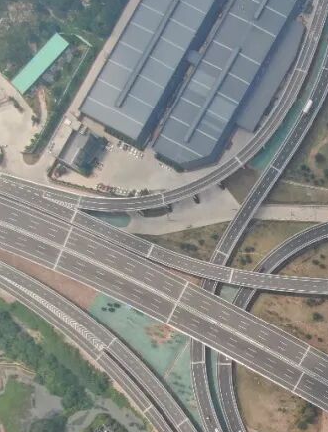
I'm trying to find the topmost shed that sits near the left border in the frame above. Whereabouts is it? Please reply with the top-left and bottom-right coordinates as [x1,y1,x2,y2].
[12,34,73,96]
